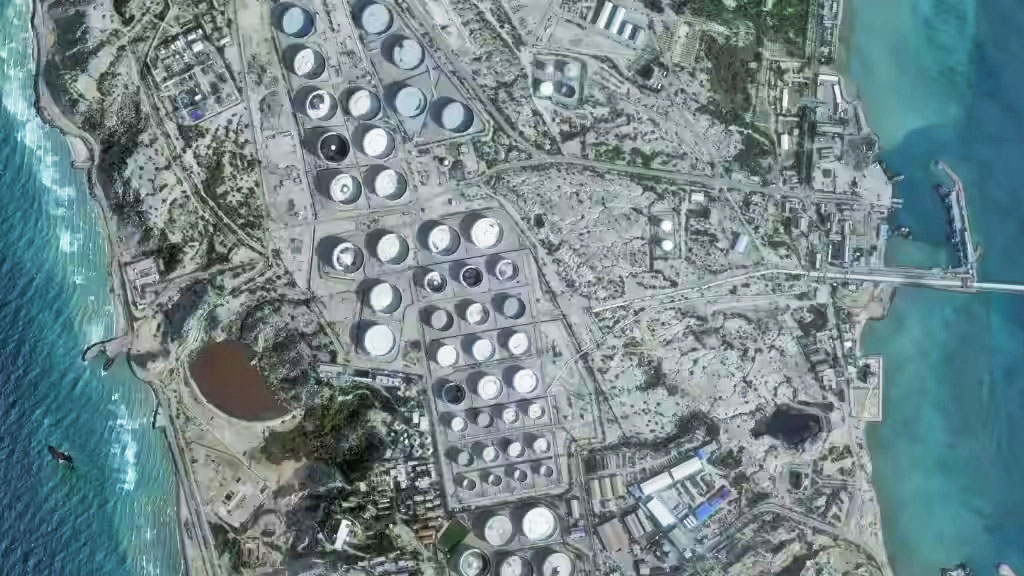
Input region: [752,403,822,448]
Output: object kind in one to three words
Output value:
pond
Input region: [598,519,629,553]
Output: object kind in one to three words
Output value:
building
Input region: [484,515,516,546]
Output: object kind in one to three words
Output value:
storage tank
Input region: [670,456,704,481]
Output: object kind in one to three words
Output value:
building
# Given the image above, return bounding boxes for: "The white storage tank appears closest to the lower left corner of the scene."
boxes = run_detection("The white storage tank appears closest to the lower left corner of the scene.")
[363,324,396,357]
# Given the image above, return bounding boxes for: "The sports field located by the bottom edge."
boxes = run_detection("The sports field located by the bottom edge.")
[436,517,472,553]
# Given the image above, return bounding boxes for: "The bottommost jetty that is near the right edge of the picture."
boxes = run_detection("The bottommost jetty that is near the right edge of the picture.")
[812,271,1024,291]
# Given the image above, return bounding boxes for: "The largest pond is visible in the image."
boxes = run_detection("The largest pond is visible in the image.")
[190,340,290,419]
